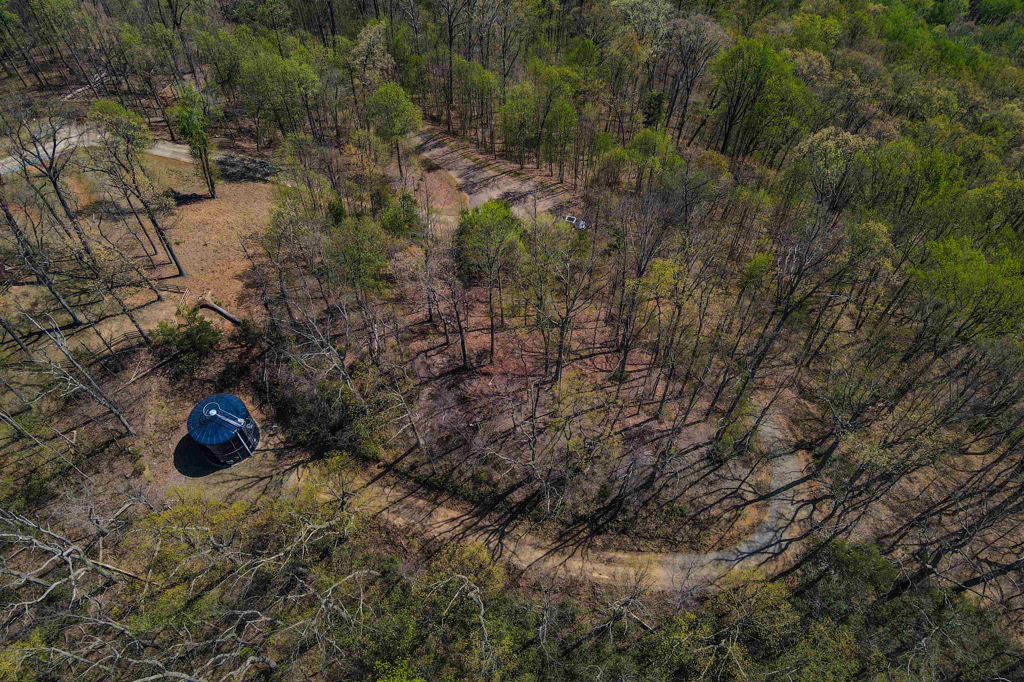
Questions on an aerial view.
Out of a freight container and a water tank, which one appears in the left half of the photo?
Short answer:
water tank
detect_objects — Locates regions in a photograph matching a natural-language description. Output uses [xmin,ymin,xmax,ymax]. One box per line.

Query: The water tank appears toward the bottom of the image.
[186,393,261,467]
